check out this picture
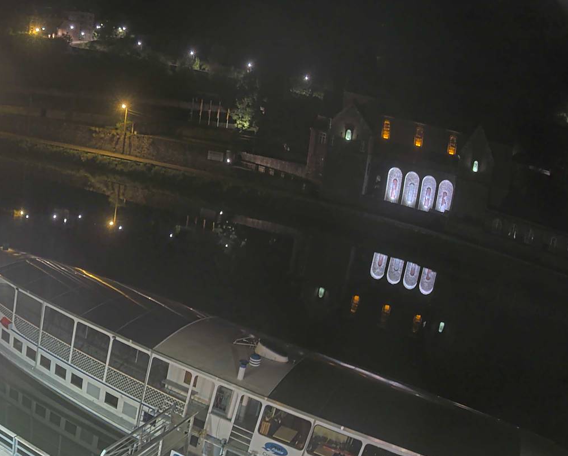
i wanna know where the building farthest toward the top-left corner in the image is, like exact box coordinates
[25,16,60,44]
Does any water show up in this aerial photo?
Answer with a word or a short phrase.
Yes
